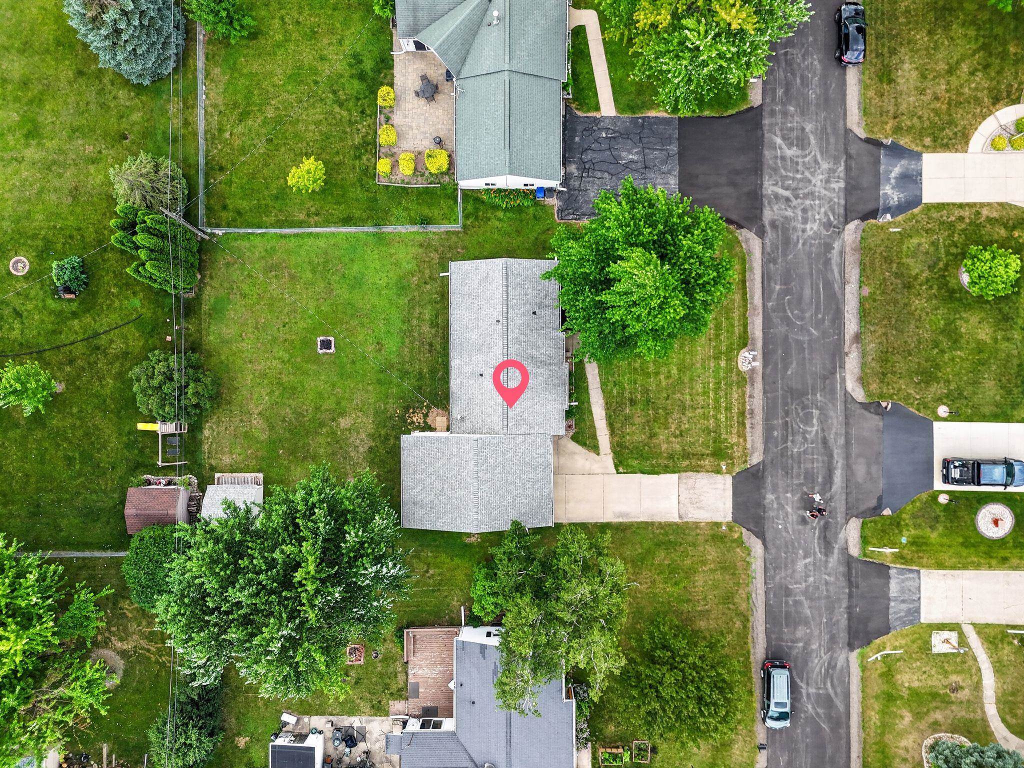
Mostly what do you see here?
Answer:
grass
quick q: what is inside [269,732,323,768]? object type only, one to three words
shed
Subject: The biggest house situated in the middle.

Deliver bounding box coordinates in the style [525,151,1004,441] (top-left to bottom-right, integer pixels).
[400,256,578,533]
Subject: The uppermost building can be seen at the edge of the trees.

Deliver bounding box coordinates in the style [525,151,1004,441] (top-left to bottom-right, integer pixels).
[391,0,571,190]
